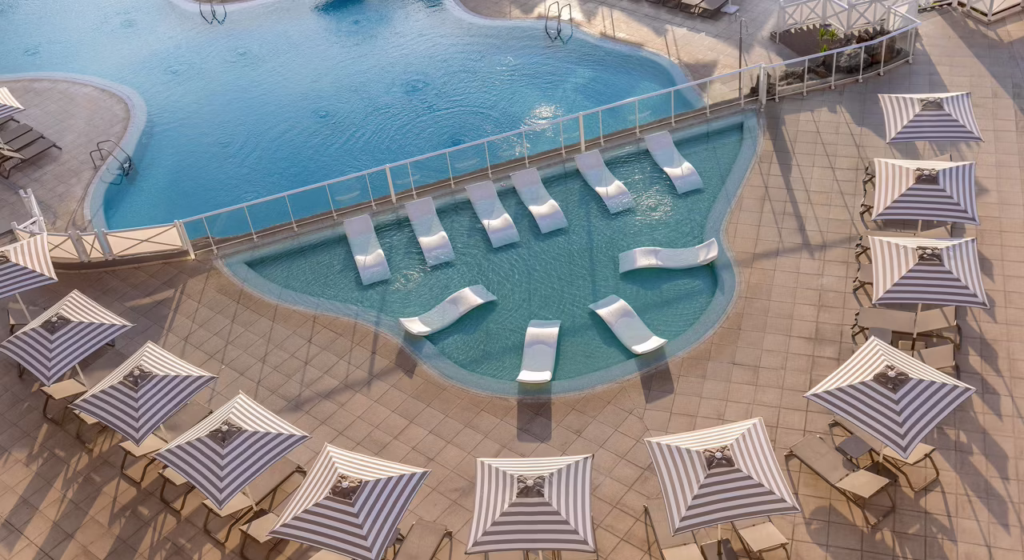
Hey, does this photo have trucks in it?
No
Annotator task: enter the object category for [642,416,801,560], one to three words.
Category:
umbrella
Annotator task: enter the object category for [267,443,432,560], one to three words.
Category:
umbrella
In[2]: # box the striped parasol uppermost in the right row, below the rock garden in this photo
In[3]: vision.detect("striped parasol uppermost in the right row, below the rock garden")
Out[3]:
[877,92,983,163]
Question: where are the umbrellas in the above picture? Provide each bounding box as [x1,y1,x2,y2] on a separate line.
[642,416,801,560]
[463,451,594,560]
[0,231,57,322]
[877,92,983,163]
[804,335,978,494]
[867,236,989,359]
[152,388,312,523]
[870,161,978,238]
[267,443,432,560]
[68,340,221,469]
[717,0,744,16]
[0,290,134,389]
